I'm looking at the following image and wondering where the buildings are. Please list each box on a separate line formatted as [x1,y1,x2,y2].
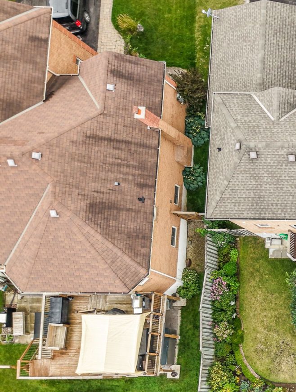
[0,1,200,295]
[204,0,296,239]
